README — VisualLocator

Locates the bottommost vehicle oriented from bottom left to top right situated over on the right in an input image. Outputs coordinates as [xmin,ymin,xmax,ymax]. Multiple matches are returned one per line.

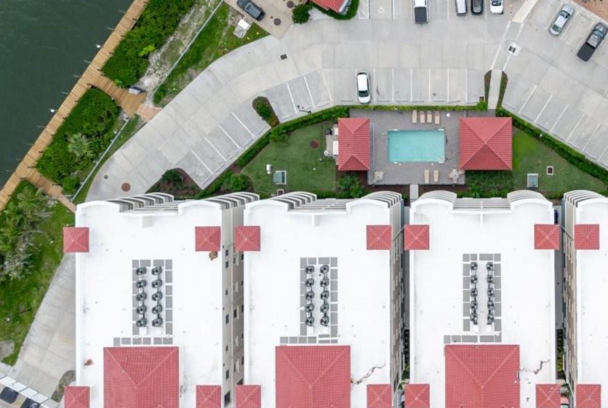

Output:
[576,22,608,63]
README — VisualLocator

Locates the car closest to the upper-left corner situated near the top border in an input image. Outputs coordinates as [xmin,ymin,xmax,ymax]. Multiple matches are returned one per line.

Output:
[234,0,268,23]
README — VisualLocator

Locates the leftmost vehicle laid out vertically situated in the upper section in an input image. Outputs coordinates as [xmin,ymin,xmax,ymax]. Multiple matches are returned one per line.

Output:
[356,70,372,106]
